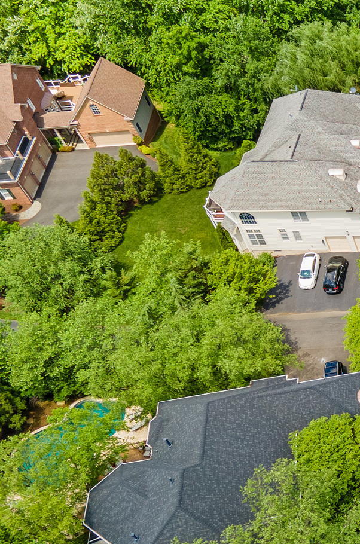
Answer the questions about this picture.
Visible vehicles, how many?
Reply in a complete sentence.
In total, there are 3 vehicles in the scene.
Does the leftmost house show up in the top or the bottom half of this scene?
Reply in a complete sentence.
You can find the leftmost house in the top half.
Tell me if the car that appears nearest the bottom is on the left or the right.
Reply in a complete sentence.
The car that appears nearest the bottom appears in the right half of the scene.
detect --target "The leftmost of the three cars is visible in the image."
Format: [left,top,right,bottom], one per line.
[295,250,319,285]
